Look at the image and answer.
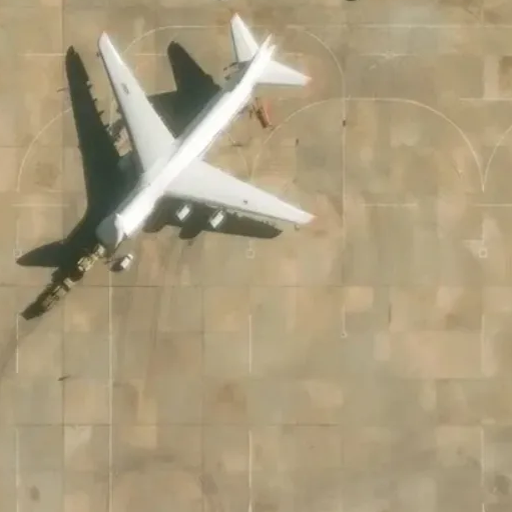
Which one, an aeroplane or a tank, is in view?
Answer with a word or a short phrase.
aeroplane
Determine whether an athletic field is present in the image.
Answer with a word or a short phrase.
No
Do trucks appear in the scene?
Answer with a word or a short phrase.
Yes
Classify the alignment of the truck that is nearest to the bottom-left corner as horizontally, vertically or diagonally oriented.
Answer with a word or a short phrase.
diagonally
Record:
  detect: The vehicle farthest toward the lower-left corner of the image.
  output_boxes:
[35,274,74,314]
